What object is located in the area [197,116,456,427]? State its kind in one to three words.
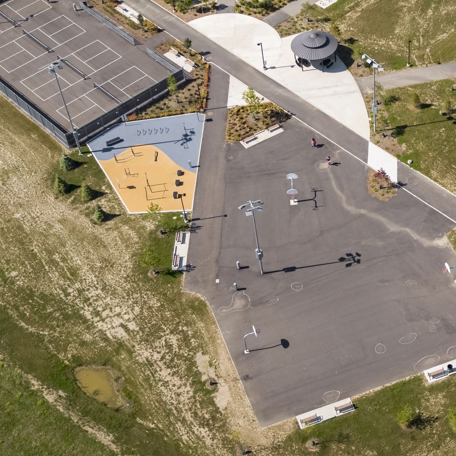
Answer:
basketball court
